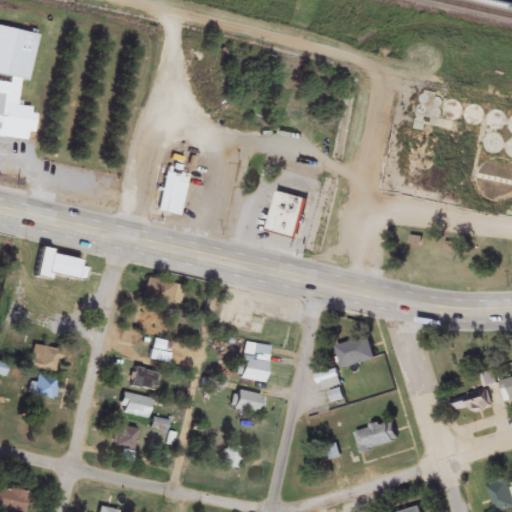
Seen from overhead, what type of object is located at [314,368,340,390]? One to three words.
building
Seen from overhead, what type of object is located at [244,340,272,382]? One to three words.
house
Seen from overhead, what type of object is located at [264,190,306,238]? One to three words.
building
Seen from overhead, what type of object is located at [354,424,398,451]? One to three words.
house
